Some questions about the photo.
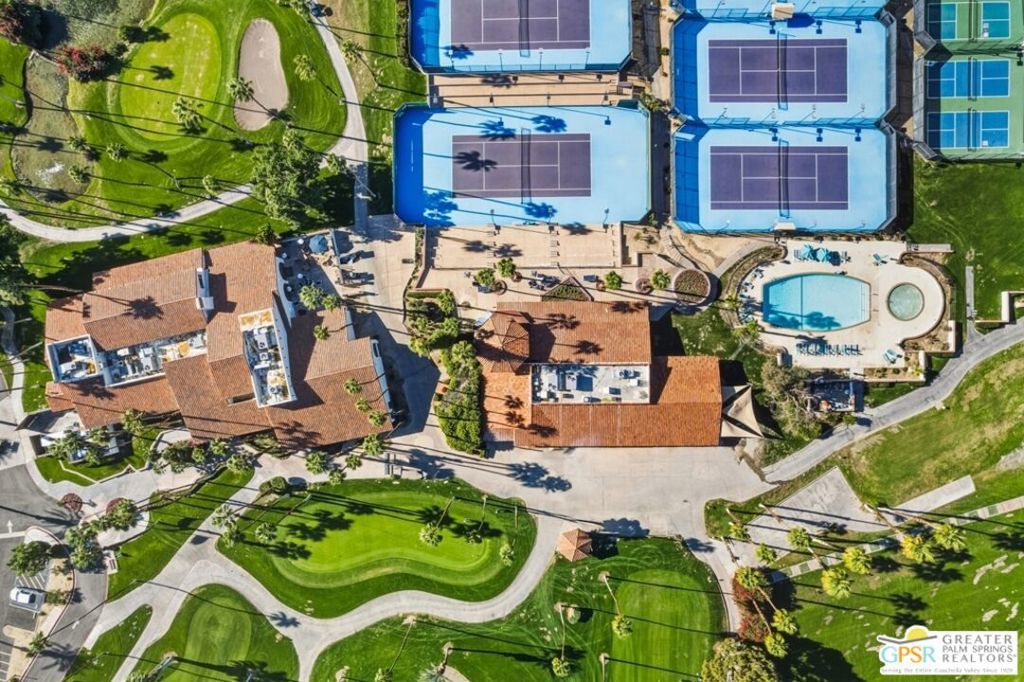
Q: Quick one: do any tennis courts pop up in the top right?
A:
Yes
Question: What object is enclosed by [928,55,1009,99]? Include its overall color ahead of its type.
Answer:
blue sports court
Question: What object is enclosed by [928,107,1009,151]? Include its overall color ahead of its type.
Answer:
blue sports court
